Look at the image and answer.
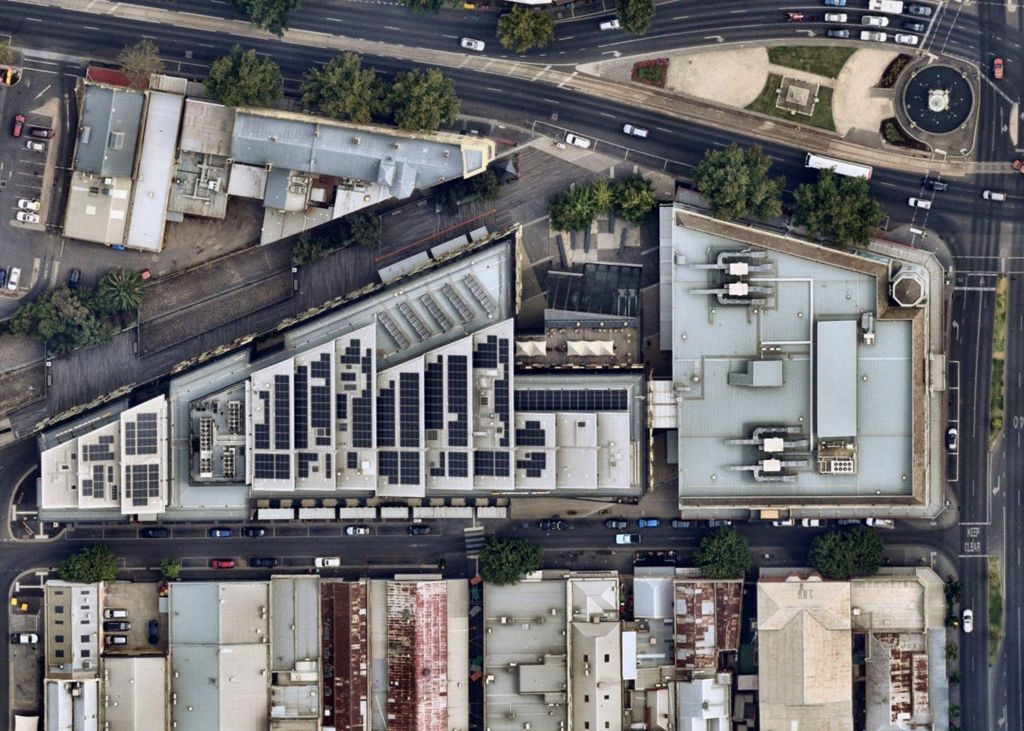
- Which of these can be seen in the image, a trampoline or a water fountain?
water fountain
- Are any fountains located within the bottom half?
No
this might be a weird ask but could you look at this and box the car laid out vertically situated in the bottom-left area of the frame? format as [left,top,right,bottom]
[147,620,159,645]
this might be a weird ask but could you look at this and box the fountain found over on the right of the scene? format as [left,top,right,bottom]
[902,63,975,135]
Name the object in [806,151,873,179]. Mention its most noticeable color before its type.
white bus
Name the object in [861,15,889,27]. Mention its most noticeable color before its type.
white vehicle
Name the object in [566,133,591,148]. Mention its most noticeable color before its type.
white car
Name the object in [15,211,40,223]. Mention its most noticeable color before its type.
white vehicle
